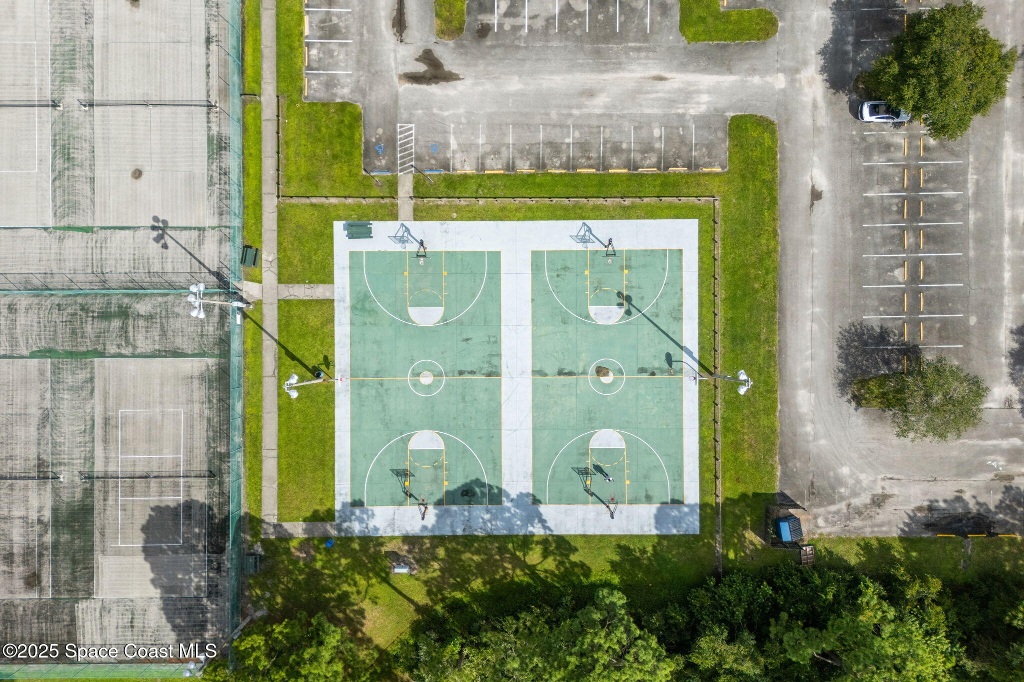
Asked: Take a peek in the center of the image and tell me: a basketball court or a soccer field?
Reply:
basketball court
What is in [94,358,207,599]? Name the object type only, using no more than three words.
tennis court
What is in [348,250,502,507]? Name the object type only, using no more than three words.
basketball court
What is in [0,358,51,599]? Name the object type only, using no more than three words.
tennis court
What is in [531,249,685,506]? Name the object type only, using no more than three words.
basketball court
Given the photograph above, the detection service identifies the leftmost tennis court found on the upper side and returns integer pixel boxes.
[0,0,51,226]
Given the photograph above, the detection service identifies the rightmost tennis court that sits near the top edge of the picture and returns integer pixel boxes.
[94,0,208,226]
